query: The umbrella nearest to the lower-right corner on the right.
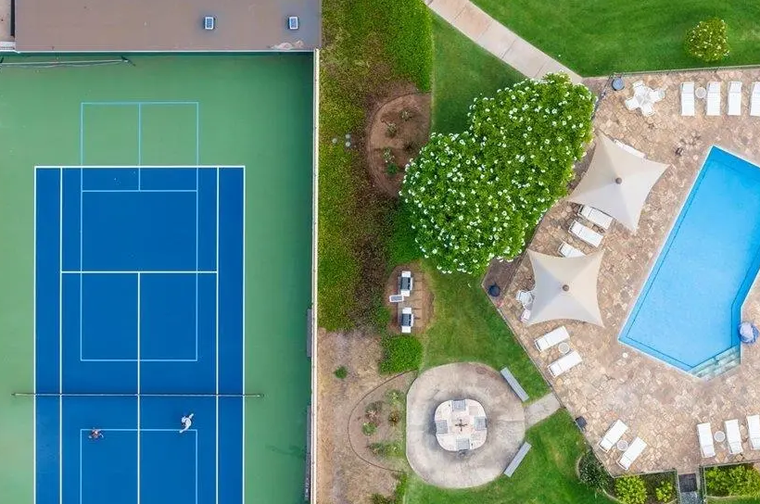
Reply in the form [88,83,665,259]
[736,320,758,342]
